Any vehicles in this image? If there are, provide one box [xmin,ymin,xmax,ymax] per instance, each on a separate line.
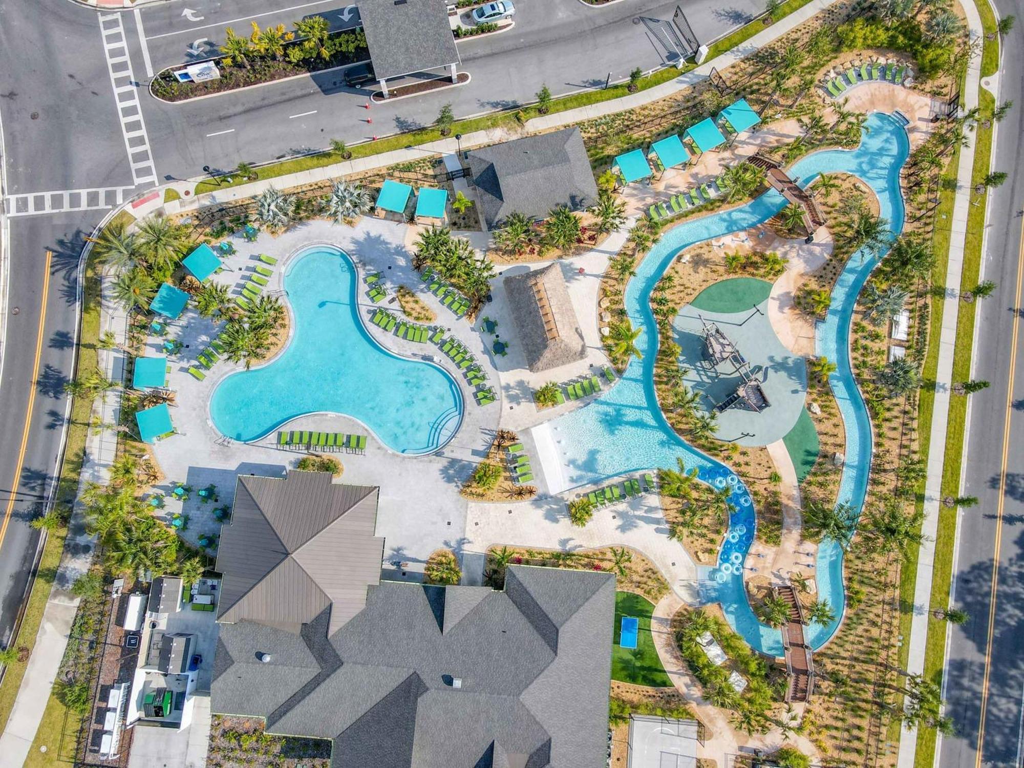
[469,0,517,26]
[342,60,377,89]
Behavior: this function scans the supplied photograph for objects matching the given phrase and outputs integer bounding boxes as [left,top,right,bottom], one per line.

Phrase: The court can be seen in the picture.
[630,718,697,768]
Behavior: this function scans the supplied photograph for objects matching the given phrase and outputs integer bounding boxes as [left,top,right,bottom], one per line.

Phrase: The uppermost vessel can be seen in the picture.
[695,314,741,376]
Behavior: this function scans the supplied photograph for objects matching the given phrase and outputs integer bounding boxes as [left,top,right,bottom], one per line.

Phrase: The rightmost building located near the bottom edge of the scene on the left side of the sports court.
[209,470,615,768]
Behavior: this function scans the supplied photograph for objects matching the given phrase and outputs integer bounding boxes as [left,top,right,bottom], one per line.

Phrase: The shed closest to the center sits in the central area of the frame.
[503,262,589,374]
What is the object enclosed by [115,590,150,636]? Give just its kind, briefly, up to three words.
storage tank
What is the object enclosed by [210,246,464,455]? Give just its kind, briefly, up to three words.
swimming pool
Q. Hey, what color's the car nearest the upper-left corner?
black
